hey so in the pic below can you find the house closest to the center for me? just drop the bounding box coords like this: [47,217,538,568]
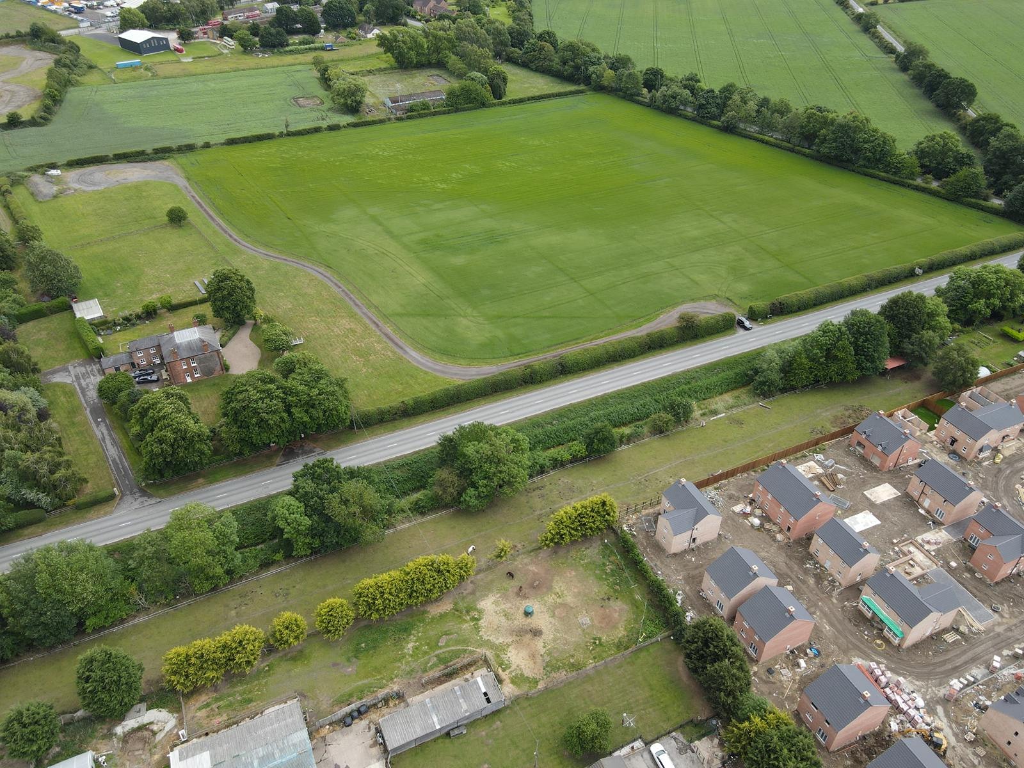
[656,476,723,553]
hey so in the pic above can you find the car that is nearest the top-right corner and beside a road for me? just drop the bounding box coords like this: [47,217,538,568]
[737,314,752,329]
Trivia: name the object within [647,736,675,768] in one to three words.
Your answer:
car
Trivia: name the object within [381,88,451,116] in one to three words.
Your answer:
shed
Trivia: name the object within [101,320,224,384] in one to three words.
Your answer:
house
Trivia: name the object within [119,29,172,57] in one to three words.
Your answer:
building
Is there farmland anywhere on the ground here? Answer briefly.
Yes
